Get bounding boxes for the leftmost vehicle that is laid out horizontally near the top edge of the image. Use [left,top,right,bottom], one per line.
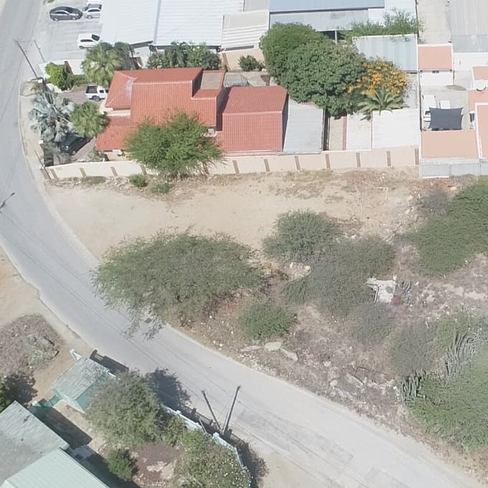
[48,4,83,21]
